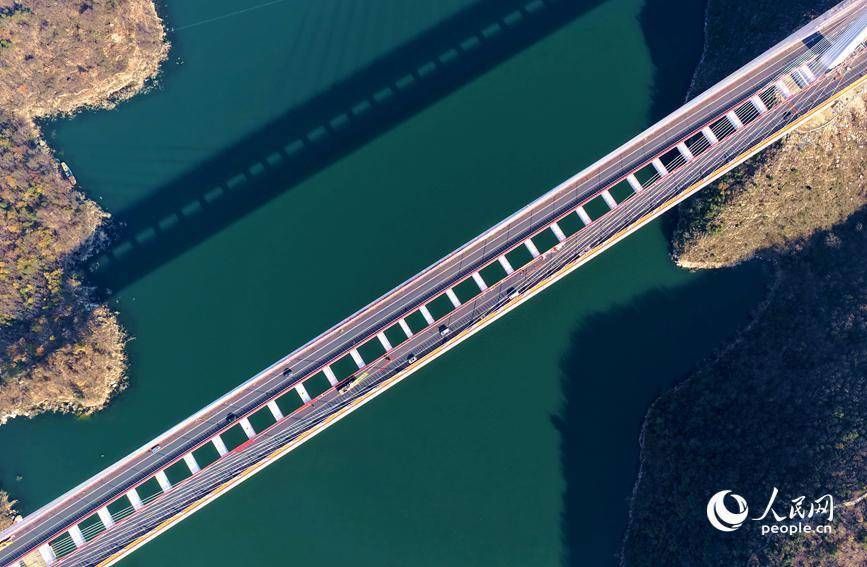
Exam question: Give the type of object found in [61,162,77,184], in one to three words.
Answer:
boat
